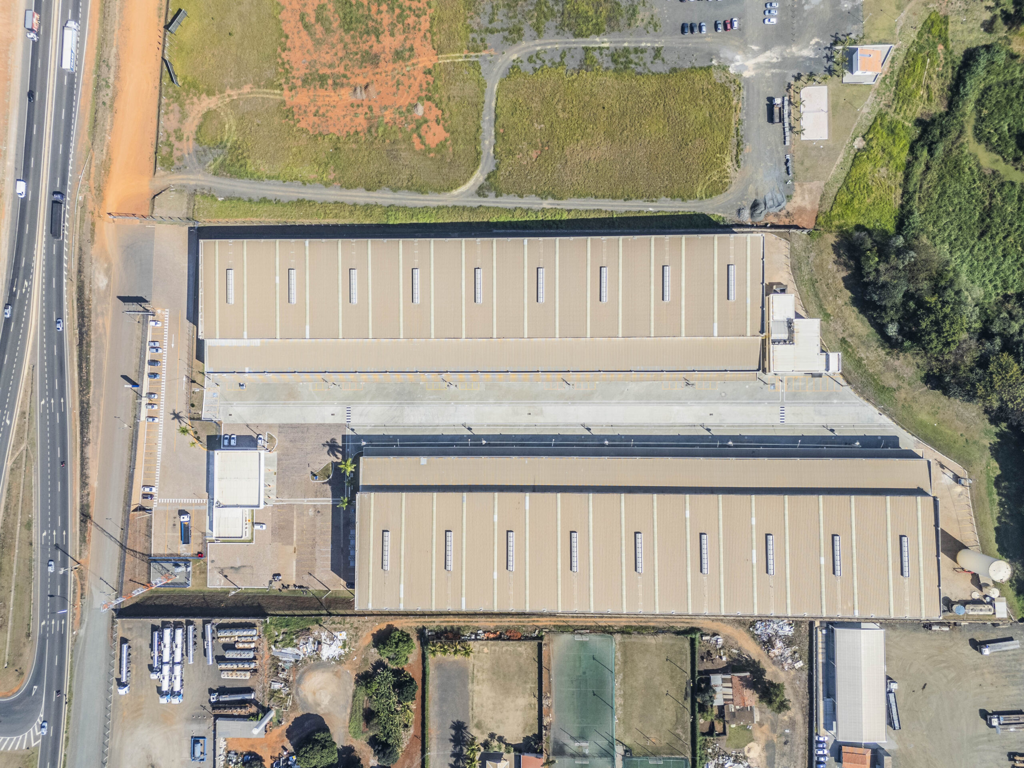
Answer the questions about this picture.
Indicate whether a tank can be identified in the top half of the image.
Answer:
No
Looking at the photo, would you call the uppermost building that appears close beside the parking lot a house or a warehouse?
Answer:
warehouse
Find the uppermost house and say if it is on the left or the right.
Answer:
right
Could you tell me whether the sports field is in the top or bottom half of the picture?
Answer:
bottom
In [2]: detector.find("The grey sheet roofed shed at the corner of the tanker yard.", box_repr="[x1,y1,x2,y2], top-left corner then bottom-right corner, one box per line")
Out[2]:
[216,717,267,738]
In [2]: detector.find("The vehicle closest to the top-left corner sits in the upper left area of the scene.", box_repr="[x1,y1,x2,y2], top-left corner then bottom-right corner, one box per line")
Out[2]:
[25,11,40,43]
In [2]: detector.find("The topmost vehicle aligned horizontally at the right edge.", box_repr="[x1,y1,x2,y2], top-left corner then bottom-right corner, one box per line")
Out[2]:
[976,638,1020,654]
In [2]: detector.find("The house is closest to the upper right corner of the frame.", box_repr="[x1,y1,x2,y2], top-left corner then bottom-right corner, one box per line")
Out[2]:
[852,47,882,78]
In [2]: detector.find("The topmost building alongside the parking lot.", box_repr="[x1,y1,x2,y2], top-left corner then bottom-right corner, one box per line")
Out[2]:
[200,234,766,383]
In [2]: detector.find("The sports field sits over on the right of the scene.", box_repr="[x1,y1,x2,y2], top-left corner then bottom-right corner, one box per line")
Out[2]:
[551,635,689,768]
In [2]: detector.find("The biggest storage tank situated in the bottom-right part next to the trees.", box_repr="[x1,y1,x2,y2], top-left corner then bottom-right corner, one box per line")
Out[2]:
[956,548,1013,584]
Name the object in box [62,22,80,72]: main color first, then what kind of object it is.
white vehicle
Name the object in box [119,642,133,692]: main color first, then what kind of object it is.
white vehicle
